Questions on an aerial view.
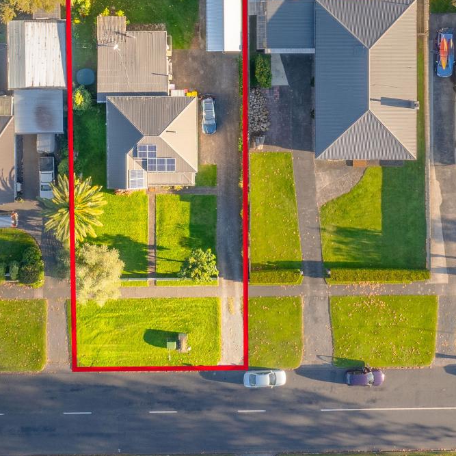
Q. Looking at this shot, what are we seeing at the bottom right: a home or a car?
car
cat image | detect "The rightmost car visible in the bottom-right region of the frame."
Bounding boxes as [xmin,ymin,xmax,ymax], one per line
[346,362,383,388]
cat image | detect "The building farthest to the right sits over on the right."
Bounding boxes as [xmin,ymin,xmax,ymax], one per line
[314,0,421,169]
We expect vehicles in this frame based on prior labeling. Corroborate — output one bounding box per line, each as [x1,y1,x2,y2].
[37,158,56,201]
[346,362,383,388]
[243,368,286,389]
[199,93,218,137]
[0,211,19,229]
[435,31,455,77]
